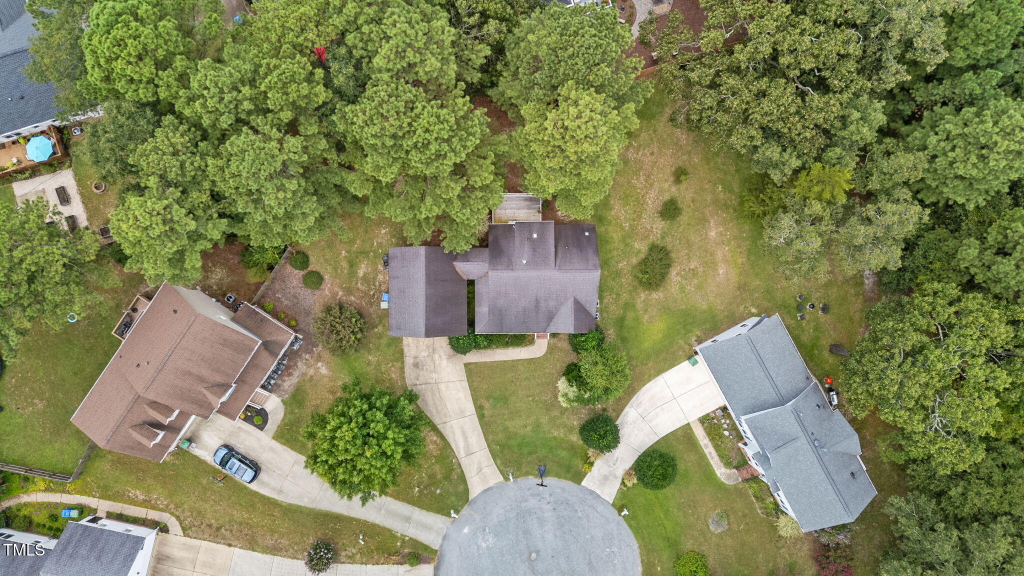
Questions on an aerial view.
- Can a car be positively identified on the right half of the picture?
No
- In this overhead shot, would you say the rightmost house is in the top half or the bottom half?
bottom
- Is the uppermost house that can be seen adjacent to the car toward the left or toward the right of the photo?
left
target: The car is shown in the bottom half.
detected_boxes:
[210,443,265,488]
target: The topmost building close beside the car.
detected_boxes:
[75,283,297,463]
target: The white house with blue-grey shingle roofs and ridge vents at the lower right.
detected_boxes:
[695,311,878,532]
